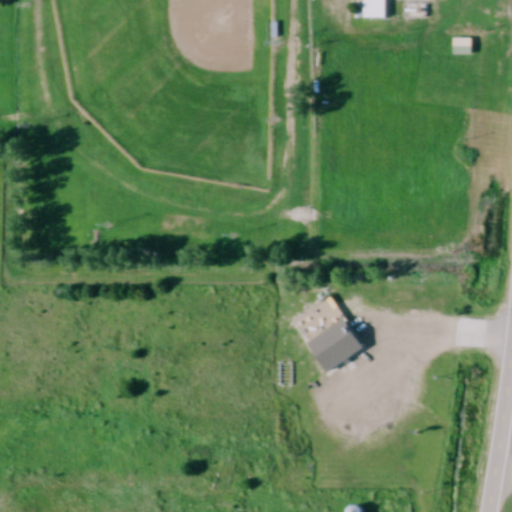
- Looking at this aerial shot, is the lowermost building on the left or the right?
right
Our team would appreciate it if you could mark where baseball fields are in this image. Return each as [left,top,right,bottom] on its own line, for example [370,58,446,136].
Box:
[52,0,284,190]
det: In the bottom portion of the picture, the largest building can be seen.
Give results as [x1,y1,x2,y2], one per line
[308,320,363,370]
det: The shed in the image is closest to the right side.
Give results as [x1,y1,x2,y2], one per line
[453,36,473,54]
